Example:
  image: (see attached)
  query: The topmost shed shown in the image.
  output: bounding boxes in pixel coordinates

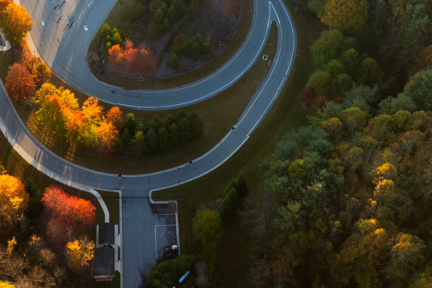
[98,223,116,250]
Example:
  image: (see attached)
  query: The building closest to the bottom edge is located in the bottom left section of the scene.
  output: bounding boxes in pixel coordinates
[91,247,115,285]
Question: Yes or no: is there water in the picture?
No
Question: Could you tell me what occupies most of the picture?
trees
